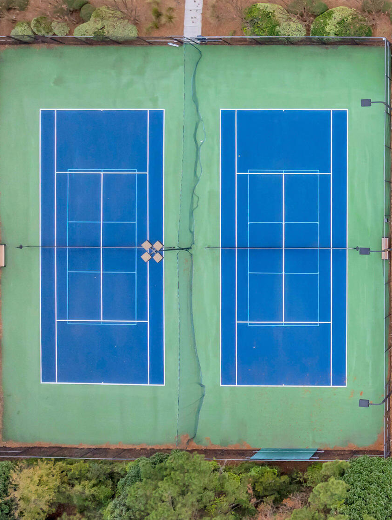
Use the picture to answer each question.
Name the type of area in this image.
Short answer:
sports ground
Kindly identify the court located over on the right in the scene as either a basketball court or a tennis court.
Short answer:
tennis court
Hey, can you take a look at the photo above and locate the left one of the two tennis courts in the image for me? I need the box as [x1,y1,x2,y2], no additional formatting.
[0,44,193,446]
